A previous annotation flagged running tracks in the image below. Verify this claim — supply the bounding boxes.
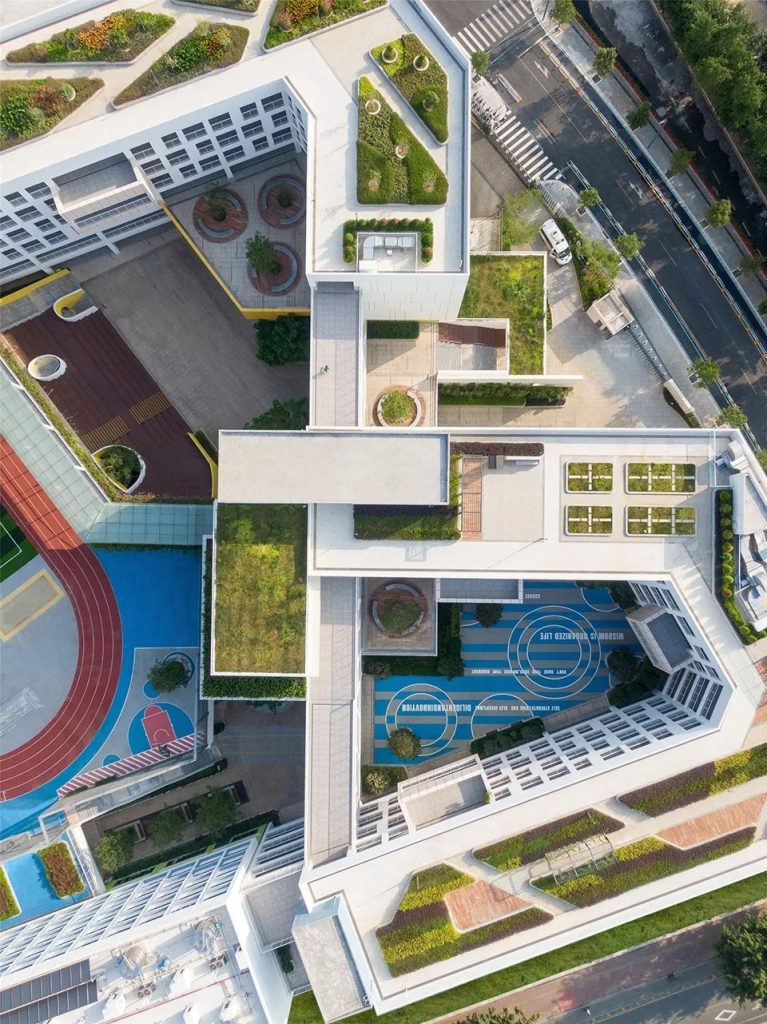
[0,435,123,799]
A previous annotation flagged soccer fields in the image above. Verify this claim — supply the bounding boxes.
[0,507,37,575]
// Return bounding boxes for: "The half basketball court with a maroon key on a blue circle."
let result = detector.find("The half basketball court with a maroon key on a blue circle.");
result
[80,648,198,776]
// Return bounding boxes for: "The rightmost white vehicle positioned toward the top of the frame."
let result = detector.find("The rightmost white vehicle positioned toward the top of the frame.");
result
[540,218,571,264]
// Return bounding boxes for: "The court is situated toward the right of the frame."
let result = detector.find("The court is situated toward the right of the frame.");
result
[375,573,653,766]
